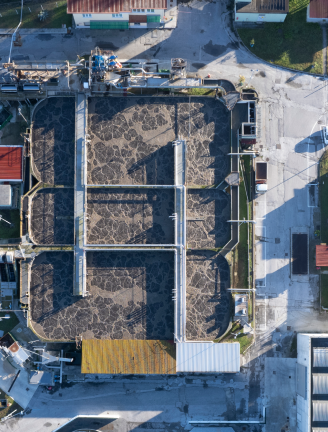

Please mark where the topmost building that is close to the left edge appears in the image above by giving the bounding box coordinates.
[0,145,26,183]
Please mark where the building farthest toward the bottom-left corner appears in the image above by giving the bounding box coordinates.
[29,370,55,384]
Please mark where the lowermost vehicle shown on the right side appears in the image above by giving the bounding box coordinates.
[255,158,268,191]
